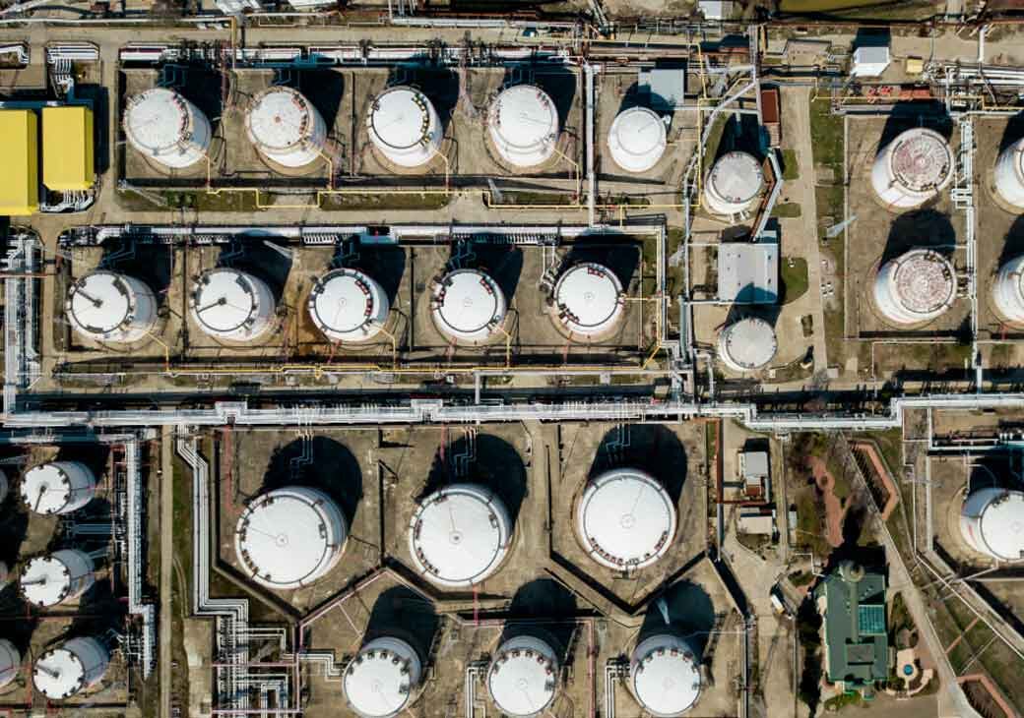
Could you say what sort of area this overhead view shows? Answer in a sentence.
This looks like an industrial area.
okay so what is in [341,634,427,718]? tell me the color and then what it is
white storage tank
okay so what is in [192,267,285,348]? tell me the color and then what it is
white storage tank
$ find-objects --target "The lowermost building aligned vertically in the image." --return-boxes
[820,556,885,697]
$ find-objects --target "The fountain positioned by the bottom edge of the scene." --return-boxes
[897,650,918,690]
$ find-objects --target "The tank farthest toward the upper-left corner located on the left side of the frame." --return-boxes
[124,86,216,172]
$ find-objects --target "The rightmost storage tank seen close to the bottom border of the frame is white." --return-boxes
[626,631,705,717]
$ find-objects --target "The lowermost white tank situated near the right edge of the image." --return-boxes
[954,476,1024,569]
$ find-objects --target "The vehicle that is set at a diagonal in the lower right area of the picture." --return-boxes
[770,594,787,615]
